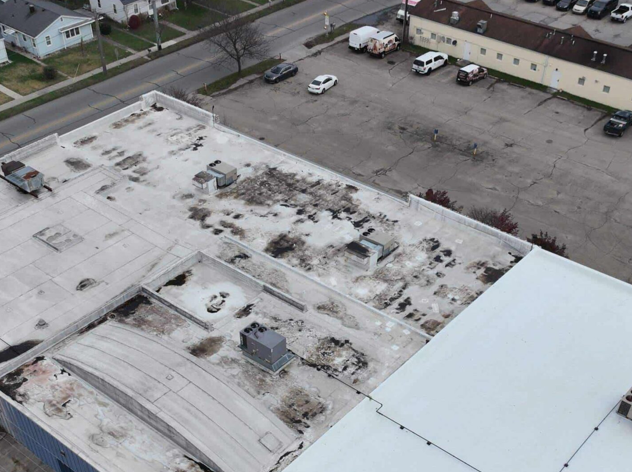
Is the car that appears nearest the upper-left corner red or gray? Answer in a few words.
gray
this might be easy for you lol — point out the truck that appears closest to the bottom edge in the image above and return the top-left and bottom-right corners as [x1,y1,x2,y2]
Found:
[602,108,632,133]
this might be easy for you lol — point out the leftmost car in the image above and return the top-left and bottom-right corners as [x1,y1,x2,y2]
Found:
[264,62,300,83]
